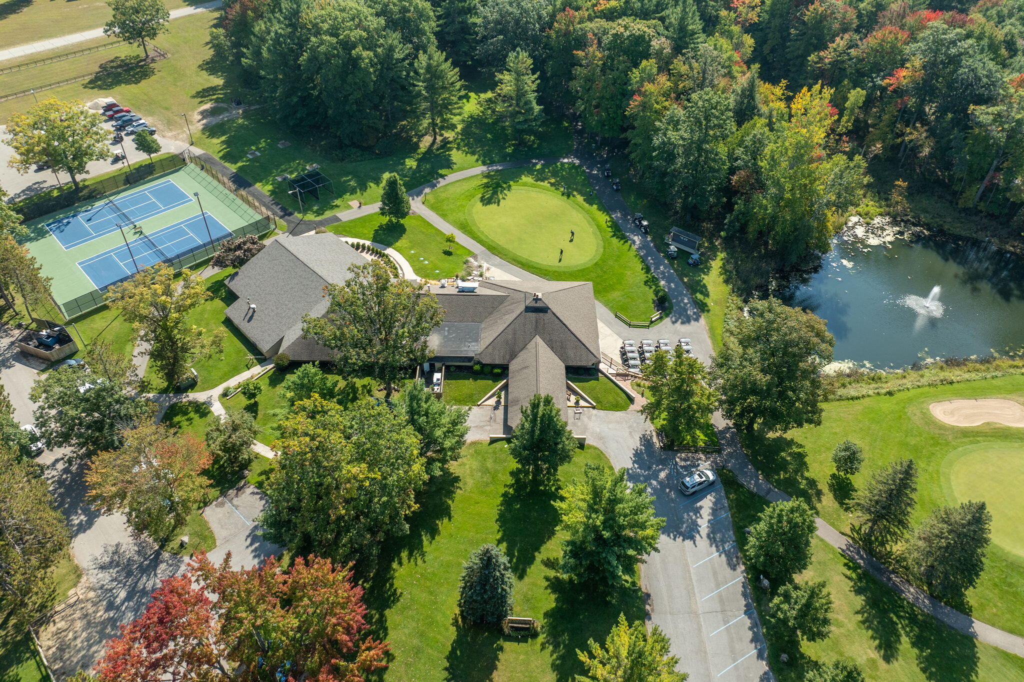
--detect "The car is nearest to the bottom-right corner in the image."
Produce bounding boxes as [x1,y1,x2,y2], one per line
[679,469,719,495]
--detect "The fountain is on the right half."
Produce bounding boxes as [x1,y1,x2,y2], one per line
[878,282,946,321]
